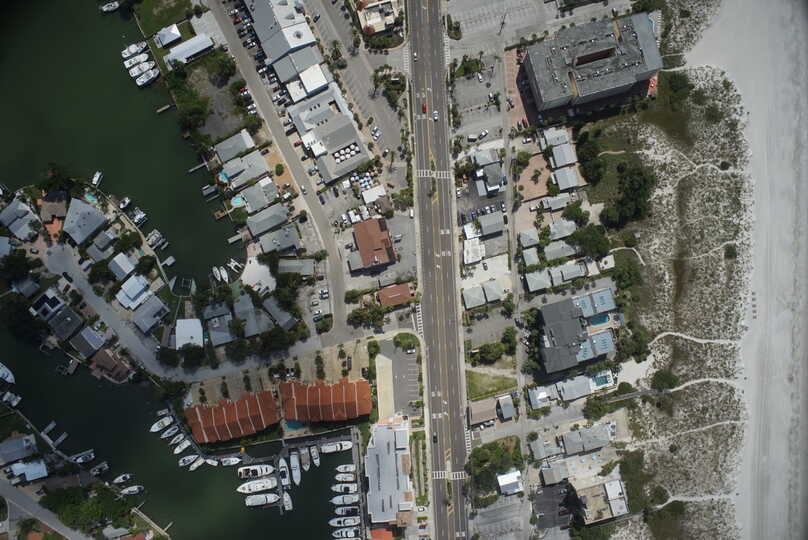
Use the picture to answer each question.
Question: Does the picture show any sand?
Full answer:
Yes, some sand is visible.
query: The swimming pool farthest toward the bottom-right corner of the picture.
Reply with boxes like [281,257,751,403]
[589,369,615,391]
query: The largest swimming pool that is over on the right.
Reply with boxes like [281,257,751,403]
[583,312,624,335]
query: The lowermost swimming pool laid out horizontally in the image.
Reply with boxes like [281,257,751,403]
[282,420,315,436]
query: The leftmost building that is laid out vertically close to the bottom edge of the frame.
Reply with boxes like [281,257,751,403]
[367,422,413,527]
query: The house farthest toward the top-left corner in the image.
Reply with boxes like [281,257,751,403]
[155,24,182,50]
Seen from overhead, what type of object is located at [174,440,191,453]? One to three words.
boat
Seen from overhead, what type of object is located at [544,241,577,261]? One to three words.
house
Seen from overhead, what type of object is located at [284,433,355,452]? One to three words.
pier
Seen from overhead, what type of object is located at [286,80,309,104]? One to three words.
building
